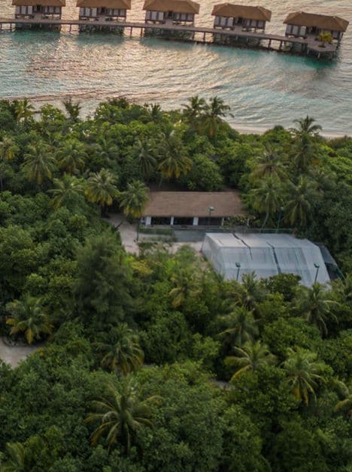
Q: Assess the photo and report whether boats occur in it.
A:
No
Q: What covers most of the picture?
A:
trees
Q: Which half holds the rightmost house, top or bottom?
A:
top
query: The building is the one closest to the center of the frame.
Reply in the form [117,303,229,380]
[135,191,251,228]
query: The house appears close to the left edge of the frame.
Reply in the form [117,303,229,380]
[12,0,65,24]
